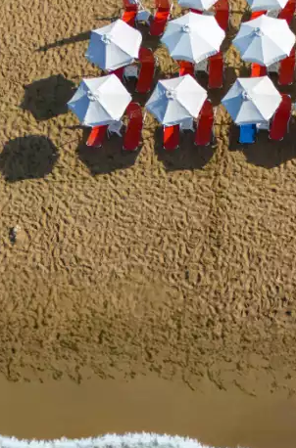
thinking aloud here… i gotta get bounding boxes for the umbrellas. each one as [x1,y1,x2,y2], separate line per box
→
[222,79,282,130]
[161,10,227,66]
[247,0,290,11]
[68,79,133,130]
[81,24,146,72]
[146,77,210,133]
[178,0,220,10]
[232,15,296,70]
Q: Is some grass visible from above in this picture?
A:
No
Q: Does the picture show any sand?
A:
Yes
